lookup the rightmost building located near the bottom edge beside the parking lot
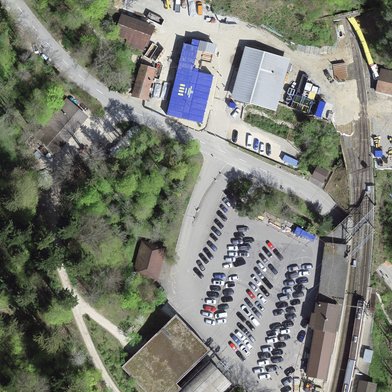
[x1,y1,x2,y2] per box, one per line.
[306,302,340,380]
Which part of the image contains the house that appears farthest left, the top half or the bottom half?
top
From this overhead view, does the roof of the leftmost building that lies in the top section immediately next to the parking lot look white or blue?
blue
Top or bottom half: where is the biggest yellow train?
top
